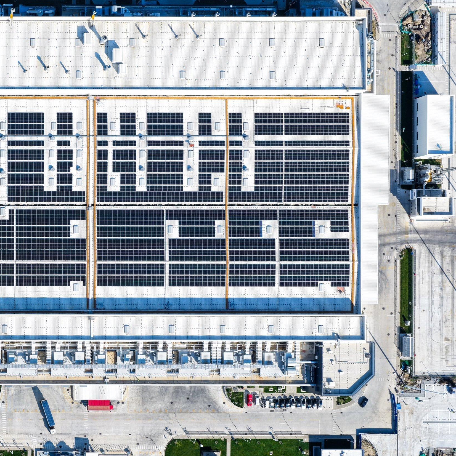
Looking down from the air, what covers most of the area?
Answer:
buildings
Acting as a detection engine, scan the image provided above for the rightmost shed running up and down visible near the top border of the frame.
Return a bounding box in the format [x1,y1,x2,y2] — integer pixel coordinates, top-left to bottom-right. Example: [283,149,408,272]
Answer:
[430,11,447,67]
